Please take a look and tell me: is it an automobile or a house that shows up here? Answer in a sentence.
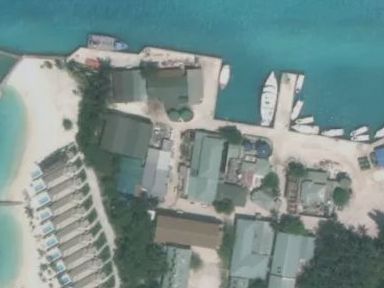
Of the two, only a house appears.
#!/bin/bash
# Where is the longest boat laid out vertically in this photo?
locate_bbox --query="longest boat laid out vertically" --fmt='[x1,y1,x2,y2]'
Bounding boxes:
[261,72,277,127]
